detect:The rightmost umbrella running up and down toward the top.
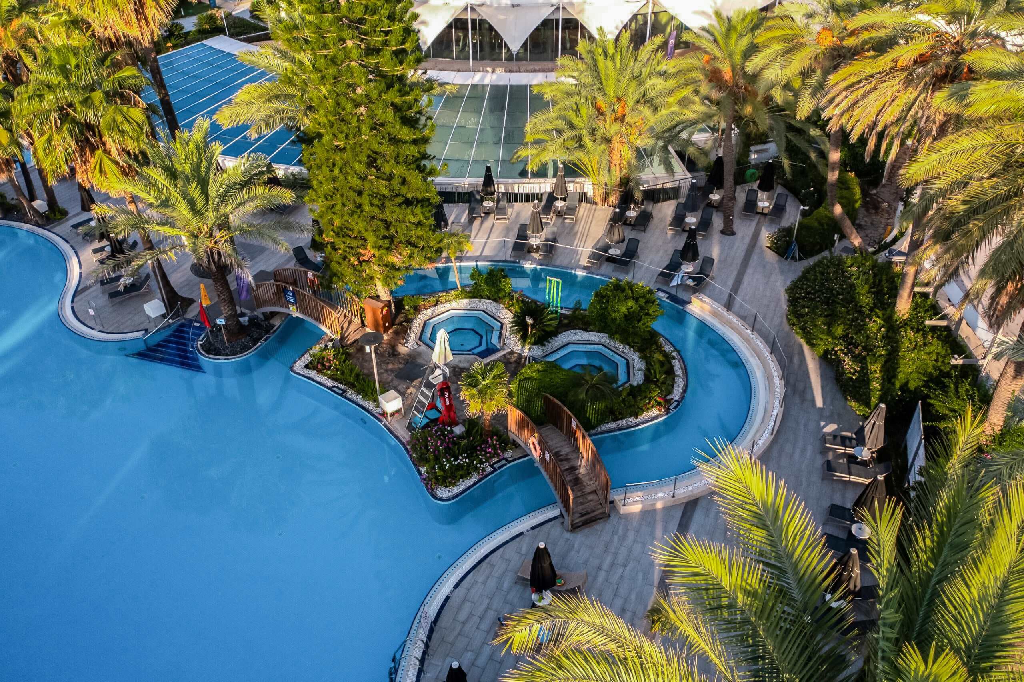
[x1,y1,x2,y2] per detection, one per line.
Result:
[756,167,774,218]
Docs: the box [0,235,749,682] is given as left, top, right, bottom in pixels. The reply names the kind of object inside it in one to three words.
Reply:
swimming pool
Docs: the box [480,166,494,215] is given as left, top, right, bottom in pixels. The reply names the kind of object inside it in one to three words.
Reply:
umbrella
